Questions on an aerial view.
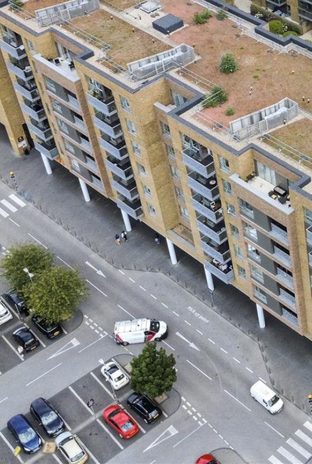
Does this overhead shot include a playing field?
No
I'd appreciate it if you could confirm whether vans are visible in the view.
Yes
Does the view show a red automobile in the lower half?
Yes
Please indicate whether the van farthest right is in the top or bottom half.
bottom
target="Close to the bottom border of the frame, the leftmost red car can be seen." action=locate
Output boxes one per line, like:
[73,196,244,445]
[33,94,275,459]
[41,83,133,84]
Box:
[99,401,142,443]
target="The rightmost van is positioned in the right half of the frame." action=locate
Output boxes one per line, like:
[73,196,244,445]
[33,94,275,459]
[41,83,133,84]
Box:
[245,375,289,419]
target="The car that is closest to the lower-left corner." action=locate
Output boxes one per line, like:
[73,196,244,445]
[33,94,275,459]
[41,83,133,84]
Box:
[3,410,46,455]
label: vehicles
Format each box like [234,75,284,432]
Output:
[99,401,142,443]
[113,315,169,347]
[53,427,91,464]
[3,287,34,317]
[27,311,65,343]
[8,322,42,354]
[125,390,163,426]
[245,375,289,419]
[26,393,67,437]
[98,358,134,392]
[3,410,46,455]
[0,297,14,326]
